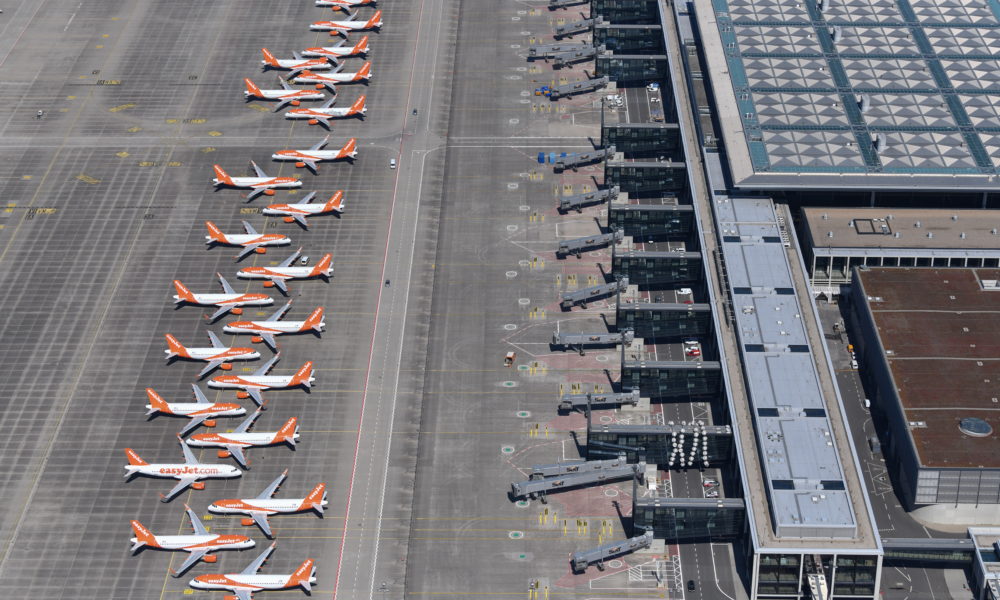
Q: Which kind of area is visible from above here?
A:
airport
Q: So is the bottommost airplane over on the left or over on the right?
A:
left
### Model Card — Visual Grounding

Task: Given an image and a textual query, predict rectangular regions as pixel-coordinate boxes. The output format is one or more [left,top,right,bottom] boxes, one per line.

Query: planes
[164,329,261,379]
[131,504,255,577]
[262,48,331,77]
[315,0,379,15]
[189,541,315,600]
[237,247,334,293]
[146,382,246,437]
[271,135,357,171]
[124,437,242,501]
[209,470,327,537]
[189,407,302,467]
[263,190,345,228]
[285,94,367,127]
[311,10,383,37]
[296,61,373,91]
[223,299,324,350]
[173,273,273,321]
[205,220,291,260]
[302,36,369,64]
[213,160,302,199]
[244,77,325,109]
[208,352,314,407]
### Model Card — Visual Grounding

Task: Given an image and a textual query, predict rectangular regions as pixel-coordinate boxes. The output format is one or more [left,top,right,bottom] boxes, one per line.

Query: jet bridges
[555,183,623,217]
[545,328,638,358]
[555,275,633,313]
[550,13,604,42]
[549,41,607,70]
[552,227,628,260]
[546,73,611,105]
[526,451,631,483]
[555,387,644,420]
[567,527,657,578]
[523,40,595,64]
[505,458,649,506]
[549,144,619,176]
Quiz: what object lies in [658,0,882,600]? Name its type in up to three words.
building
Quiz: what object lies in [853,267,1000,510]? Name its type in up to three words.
building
